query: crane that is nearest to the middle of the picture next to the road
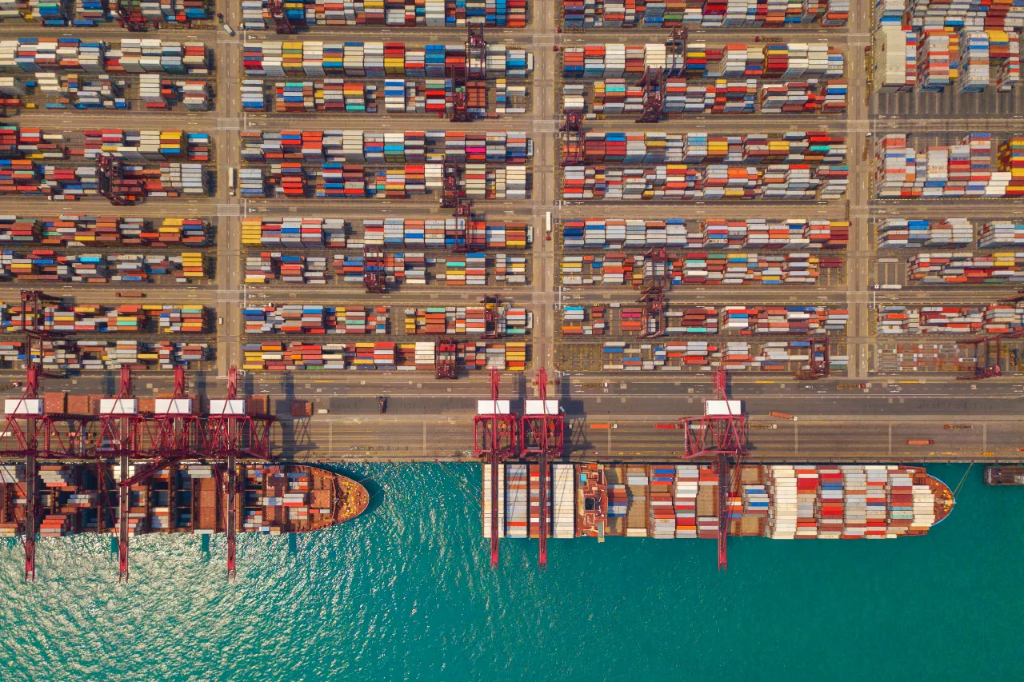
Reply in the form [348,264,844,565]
[480,291,502,337]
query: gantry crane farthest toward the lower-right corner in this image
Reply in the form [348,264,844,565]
[958,335,1001,380]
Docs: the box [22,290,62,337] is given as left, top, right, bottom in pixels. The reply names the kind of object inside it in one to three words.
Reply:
container crane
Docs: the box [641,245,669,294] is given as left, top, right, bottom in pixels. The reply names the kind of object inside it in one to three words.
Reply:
container crane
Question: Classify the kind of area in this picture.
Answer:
port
